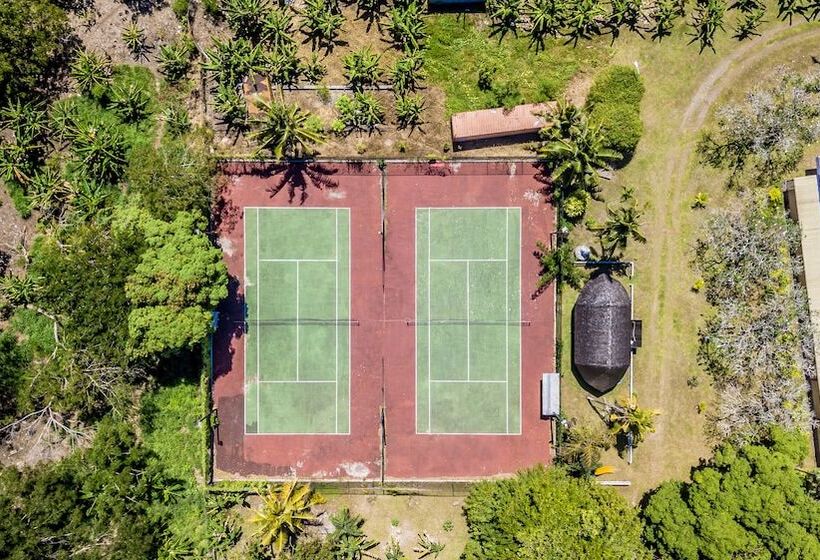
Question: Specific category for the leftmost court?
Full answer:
The leftmost court is a tennis court.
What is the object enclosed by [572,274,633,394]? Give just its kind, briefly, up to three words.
shed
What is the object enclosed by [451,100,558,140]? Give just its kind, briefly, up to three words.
shed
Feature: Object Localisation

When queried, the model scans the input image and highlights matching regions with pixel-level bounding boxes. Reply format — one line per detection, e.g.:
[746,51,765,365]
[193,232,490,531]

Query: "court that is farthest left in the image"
[213,162,383,481]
